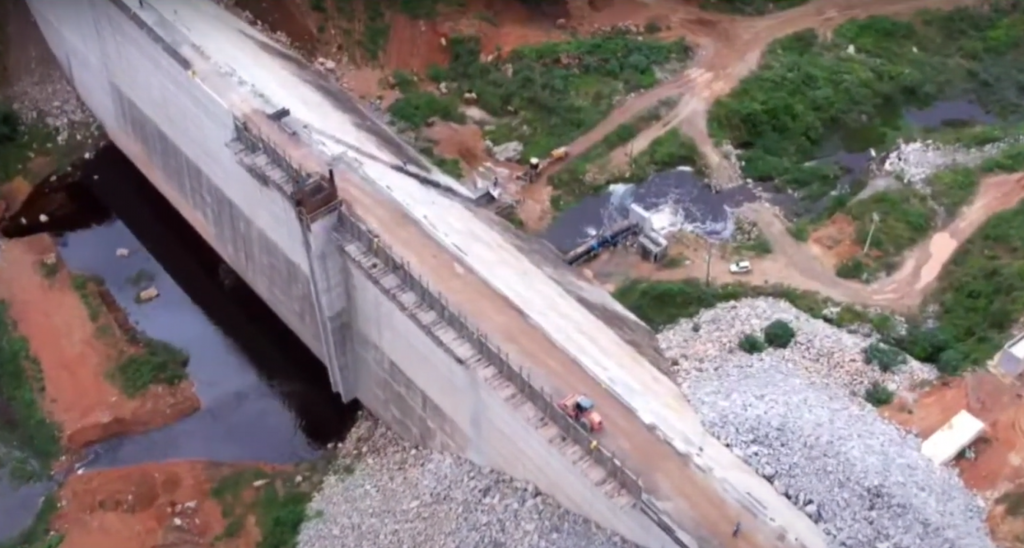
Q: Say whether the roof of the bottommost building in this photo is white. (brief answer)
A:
Yes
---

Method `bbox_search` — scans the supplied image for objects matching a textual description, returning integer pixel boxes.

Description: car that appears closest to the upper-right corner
[727,260,753,274]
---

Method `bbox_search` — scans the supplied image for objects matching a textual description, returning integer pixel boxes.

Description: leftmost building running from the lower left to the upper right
[919,411,985,466]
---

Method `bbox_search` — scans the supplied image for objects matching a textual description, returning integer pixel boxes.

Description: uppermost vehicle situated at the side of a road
[546,145,570,163]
